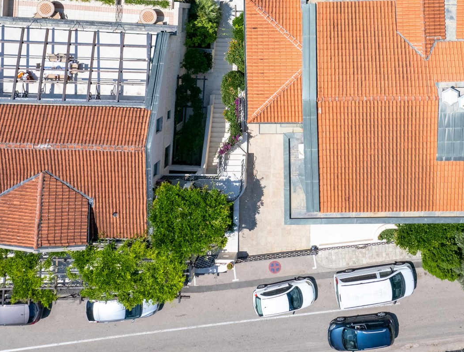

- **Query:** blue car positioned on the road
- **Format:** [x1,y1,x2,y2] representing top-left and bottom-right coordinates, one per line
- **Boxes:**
[326,310,396,352]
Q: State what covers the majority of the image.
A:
buildings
